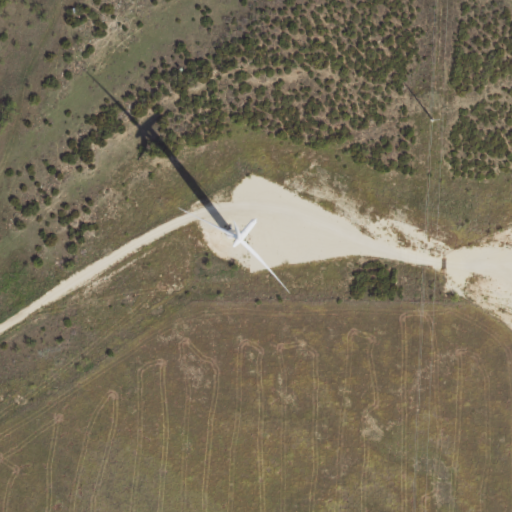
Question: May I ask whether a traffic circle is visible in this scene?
No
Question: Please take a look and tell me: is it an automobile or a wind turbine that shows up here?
wind turbine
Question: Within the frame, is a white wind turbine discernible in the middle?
Yes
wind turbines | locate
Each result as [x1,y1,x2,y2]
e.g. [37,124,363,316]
[186,208,293,288]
